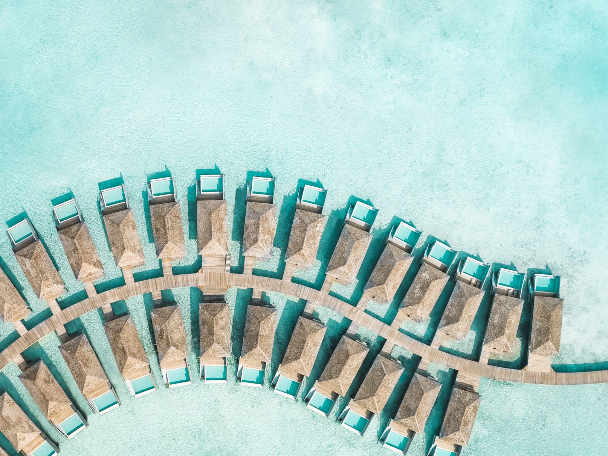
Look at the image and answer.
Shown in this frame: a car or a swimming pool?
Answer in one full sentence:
I can see a swimming pool in this picture.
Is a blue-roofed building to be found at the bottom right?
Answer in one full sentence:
No, I see no blue-roofed building at the bottom right.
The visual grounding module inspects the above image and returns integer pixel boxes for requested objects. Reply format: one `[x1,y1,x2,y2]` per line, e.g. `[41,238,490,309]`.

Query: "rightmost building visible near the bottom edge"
[427,382,482,456]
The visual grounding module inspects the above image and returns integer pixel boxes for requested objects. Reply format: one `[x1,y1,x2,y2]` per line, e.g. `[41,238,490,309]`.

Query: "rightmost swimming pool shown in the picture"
[531,271,557,292]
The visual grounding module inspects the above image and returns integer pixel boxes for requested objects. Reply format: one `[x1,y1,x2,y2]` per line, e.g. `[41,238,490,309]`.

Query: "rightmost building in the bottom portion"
[526,273,563,357]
